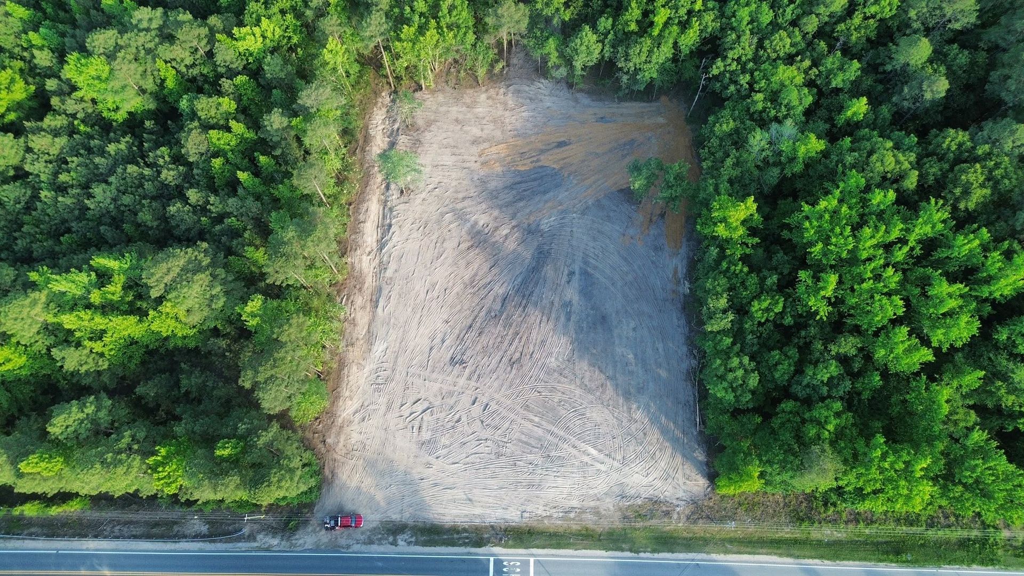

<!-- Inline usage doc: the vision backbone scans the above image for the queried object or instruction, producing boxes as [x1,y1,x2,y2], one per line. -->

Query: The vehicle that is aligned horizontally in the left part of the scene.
[323,513,365,531]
